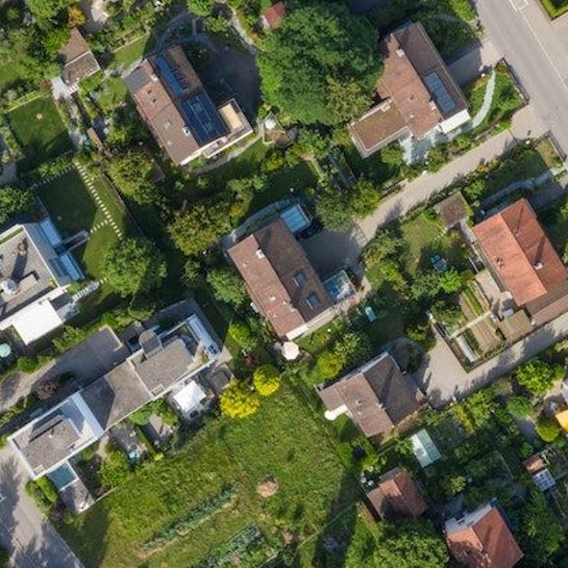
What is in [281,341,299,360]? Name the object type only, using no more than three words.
umbrella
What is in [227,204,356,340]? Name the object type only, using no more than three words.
house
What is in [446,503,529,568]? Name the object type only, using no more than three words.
house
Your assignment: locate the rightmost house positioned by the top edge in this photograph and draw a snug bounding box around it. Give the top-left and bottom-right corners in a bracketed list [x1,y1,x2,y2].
[347,23,471,160]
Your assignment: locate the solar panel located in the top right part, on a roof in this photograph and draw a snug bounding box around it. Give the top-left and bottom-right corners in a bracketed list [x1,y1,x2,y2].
[427,72,456,110]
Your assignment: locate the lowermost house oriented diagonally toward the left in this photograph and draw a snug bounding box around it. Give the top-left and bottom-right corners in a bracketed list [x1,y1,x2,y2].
[7,314,237,479]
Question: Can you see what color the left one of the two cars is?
black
